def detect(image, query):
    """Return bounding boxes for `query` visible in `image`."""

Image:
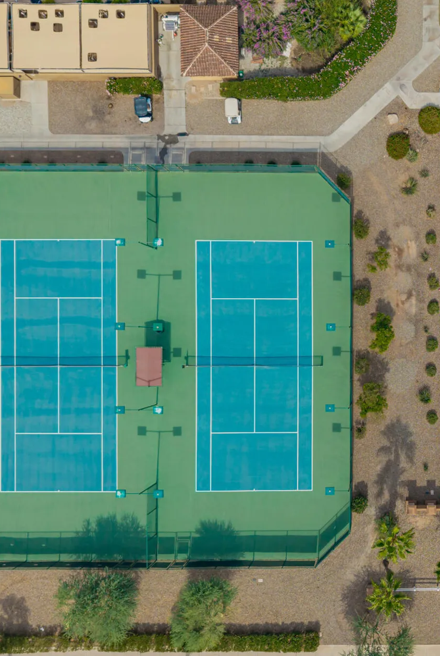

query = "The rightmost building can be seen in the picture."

[178,3,240,81]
